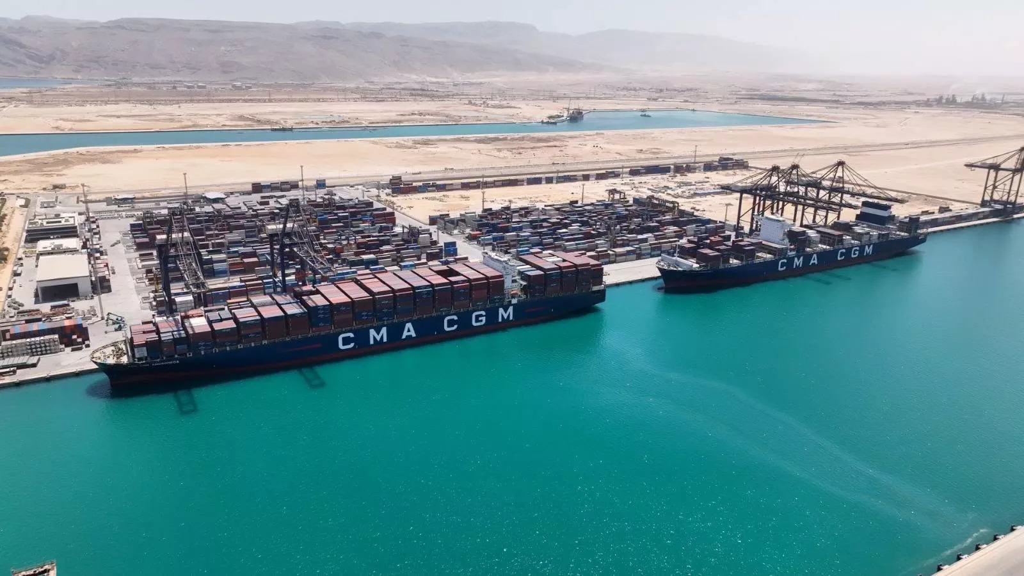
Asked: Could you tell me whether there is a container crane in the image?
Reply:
Yes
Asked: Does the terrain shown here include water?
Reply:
Yes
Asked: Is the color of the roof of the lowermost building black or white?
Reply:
white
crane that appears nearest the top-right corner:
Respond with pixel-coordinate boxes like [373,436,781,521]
[962,145,1024,216]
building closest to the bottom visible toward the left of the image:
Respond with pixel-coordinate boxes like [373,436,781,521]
[32,248,91,296]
